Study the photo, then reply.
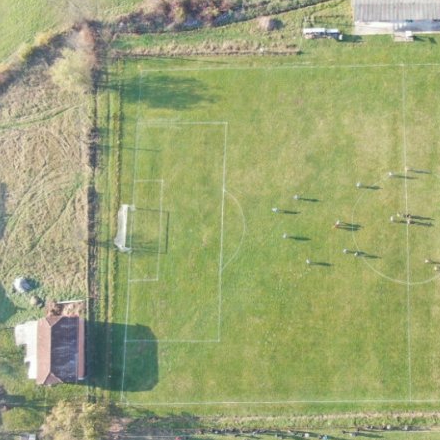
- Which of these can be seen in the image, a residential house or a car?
residential house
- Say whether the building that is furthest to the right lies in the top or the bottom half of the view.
top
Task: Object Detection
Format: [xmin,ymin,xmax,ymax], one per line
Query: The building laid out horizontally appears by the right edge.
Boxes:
[353,0,440,41]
